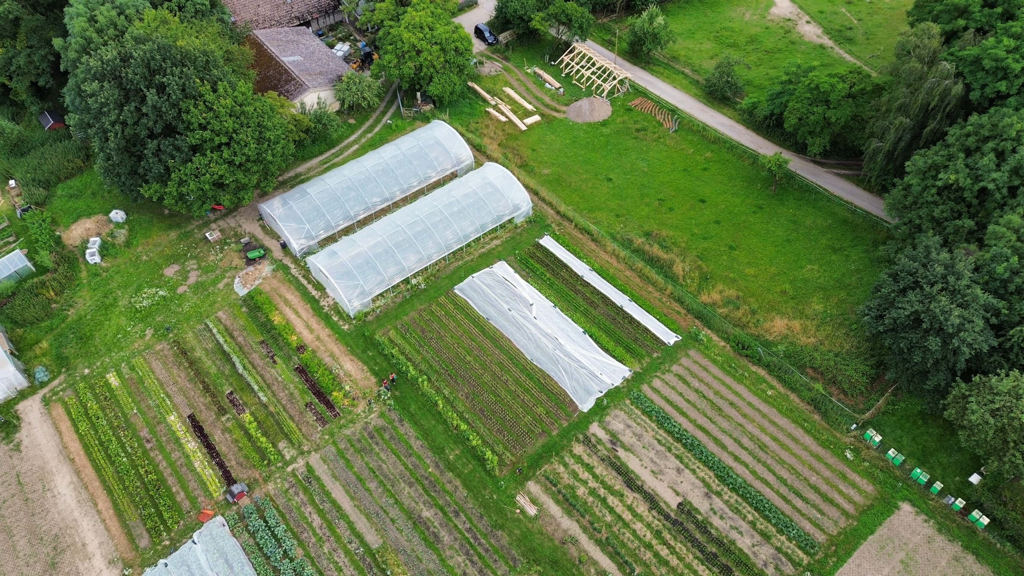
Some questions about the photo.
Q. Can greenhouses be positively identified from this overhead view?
Yes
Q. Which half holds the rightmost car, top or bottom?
top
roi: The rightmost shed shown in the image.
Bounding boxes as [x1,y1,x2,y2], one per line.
[554,41,642,103]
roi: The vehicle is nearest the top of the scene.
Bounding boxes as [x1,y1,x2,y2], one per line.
[473,23,498,45]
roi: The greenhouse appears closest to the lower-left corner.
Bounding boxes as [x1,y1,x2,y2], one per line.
[0,350,31,404]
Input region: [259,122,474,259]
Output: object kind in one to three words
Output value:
greenhouse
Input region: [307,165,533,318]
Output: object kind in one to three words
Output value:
greenhouse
